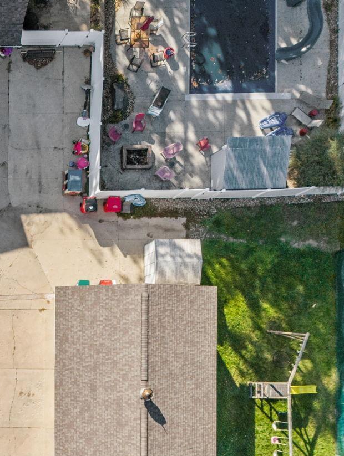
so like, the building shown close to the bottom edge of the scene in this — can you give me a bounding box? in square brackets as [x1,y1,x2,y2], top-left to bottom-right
[53,283,216,456]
